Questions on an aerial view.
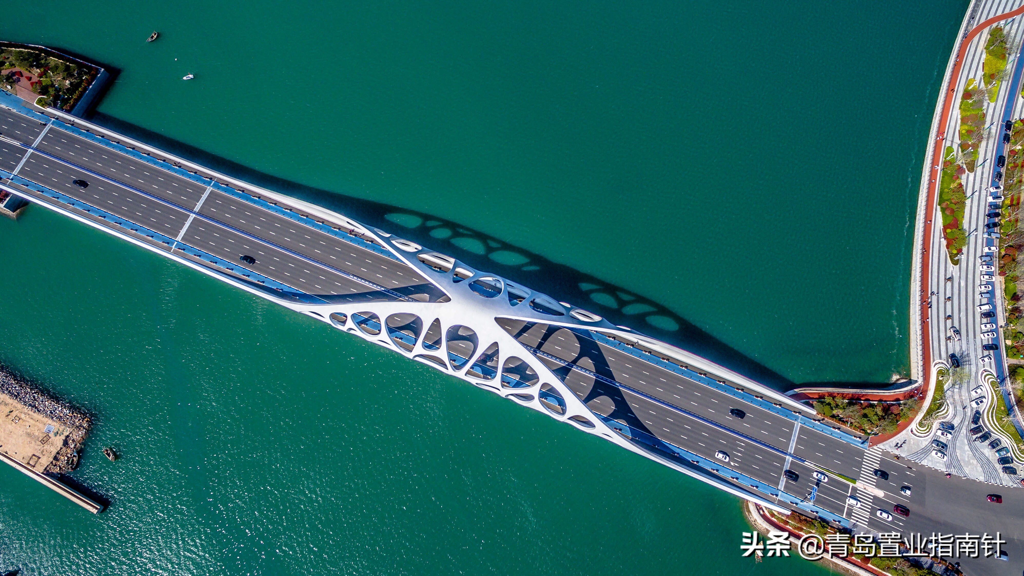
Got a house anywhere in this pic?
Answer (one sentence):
No, no house can be seen from above.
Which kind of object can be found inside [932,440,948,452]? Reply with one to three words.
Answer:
vehicle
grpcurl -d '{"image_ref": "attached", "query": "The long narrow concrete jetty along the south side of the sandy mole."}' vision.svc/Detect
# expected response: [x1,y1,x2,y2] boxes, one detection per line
[0,449,111,513]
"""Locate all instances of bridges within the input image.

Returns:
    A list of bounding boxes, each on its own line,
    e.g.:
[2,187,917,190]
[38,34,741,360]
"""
[0,102,869,527]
